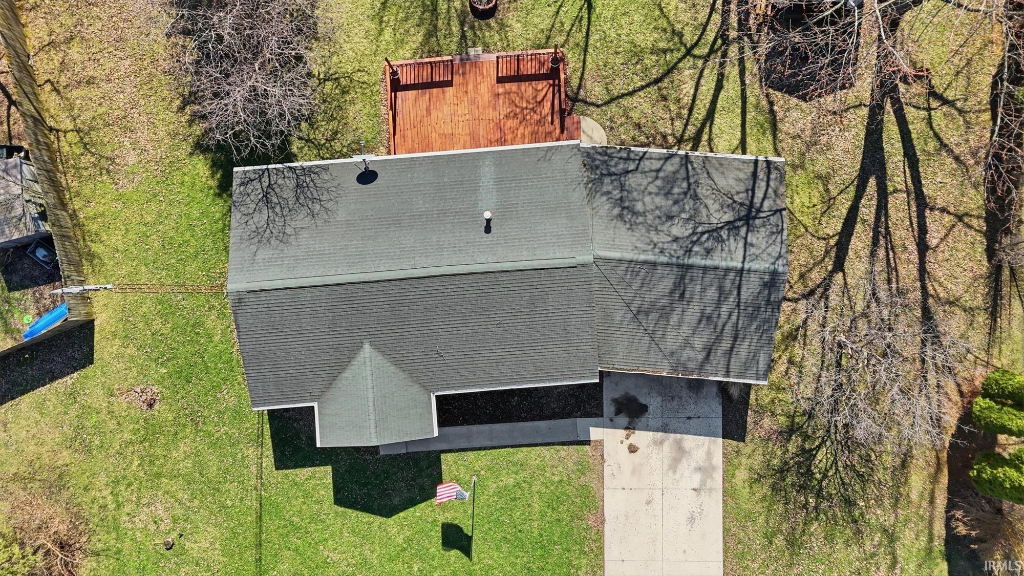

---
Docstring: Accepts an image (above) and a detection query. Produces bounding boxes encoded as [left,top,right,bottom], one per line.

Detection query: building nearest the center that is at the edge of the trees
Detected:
[226,137,789,446]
